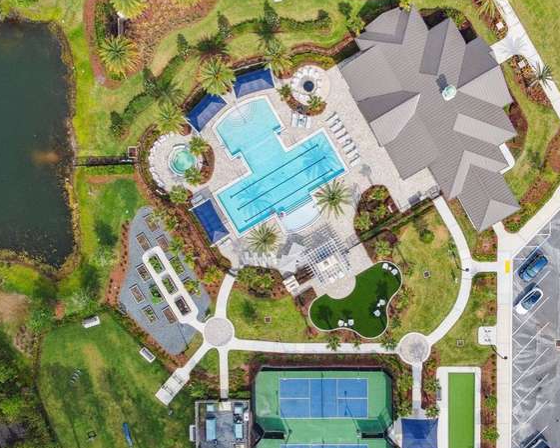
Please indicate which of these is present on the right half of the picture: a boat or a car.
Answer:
car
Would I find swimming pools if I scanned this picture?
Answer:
Yes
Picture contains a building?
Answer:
Yes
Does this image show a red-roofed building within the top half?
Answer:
No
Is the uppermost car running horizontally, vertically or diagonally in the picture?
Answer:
diagonally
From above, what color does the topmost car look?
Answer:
blue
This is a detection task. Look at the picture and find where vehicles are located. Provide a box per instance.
[532,439,551,448]
[515,285,545,314]
[520,253,551,282]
